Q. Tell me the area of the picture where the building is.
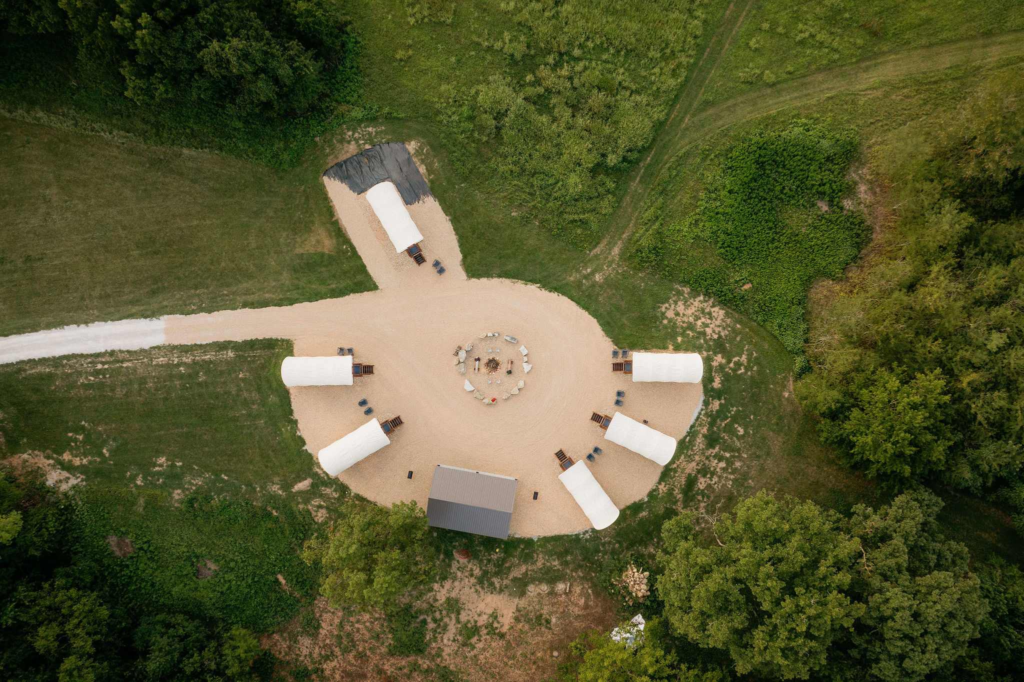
bottom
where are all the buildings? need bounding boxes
[425,463,517,539]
